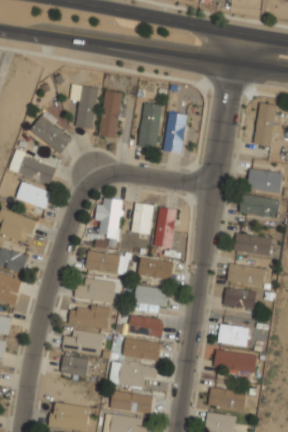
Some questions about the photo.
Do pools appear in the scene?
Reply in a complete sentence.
No, no pool can be seen from above.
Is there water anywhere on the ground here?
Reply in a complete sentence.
No, water can't be seen anywhere here.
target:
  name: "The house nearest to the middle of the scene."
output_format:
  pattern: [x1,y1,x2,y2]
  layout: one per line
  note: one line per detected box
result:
[131,203,154,240]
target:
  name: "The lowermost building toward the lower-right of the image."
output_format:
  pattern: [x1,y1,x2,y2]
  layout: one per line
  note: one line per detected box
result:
[206,413,236,432]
